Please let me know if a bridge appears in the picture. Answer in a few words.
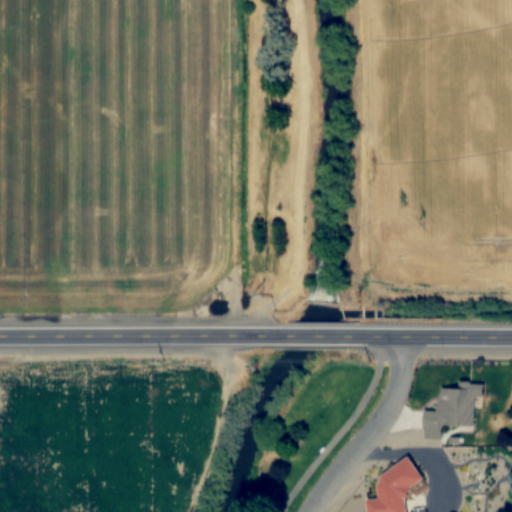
Yes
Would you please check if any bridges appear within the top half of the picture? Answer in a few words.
No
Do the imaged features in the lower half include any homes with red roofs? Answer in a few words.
Yes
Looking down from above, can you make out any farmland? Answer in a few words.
Yes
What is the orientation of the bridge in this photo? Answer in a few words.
from left to right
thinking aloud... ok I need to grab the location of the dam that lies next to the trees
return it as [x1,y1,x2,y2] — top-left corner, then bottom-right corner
[308,259,342,305]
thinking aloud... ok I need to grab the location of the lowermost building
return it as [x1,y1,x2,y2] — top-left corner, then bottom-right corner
[367,457,422,512]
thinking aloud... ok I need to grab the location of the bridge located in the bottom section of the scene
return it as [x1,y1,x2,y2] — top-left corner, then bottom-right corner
[235,321,372,358]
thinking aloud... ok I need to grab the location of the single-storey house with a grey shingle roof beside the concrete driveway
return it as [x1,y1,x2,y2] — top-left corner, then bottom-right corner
[424,382,485,439]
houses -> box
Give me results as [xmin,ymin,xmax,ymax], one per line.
[367,457,422,512]
[424,382,485,439]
